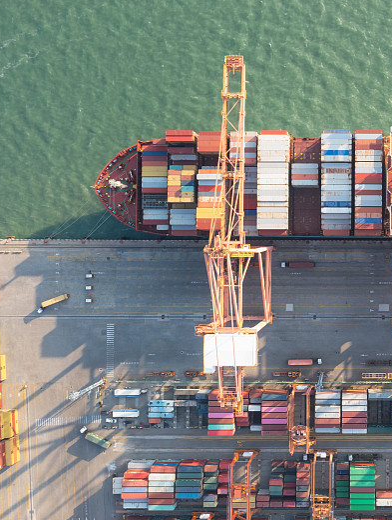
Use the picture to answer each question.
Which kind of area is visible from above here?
port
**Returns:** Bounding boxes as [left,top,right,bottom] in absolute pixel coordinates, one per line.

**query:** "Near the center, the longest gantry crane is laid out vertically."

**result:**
[191,55,283,422]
